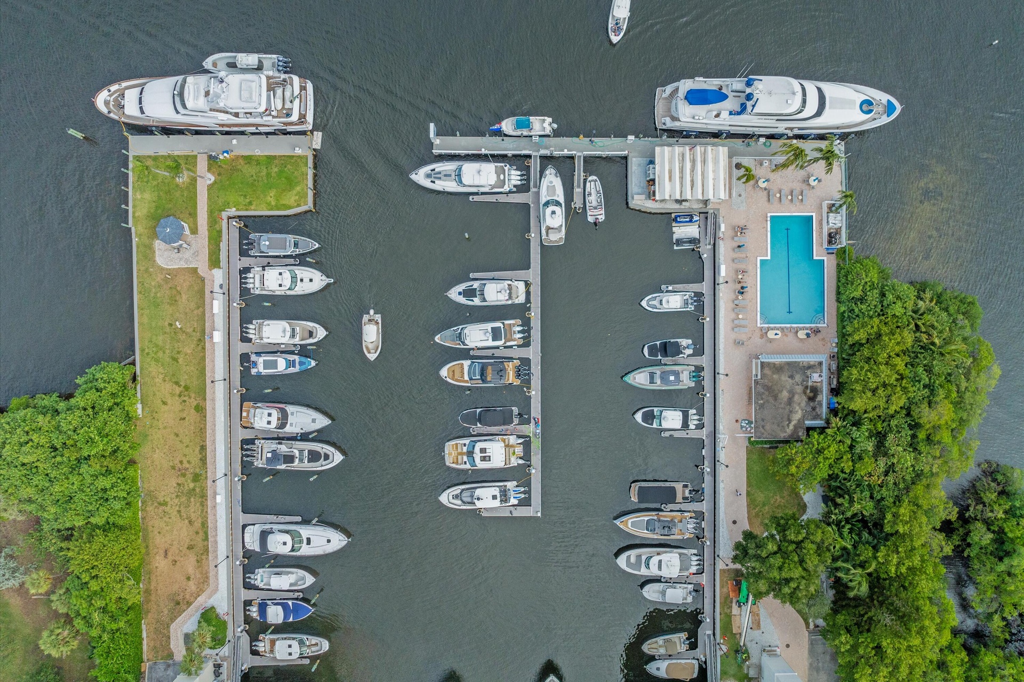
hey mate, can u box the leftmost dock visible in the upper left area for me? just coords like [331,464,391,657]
[129,135,315,157]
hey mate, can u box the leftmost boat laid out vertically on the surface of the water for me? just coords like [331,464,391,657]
[363,300,382,361]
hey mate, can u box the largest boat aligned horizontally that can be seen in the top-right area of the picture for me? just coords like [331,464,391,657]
[653,60,909,134]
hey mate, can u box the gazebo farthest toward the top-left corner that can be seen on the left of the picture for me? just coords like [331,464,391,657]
[150,211,189,243]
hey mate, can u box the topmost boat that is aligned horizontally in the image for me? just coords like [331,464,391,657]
[202,51,294,75]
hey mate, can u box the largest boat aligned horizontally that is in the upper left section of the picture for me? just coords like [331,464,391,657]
[93,72,315,130]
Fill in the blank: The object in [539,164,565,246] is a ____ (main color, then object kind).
white boat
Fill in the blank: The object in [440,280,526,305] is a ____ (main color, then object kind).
white boat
